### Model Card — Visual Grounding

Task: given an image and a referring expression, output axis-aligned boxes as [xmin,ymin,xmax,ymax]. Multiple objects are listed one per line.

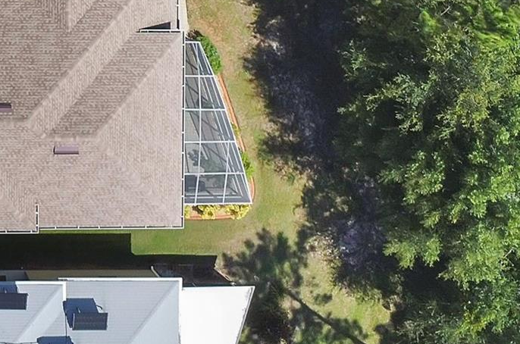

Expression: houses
[0,266,253,344]
[0,0,186,237]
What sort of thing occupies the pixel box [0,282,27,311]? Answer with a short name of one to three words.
solar panel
